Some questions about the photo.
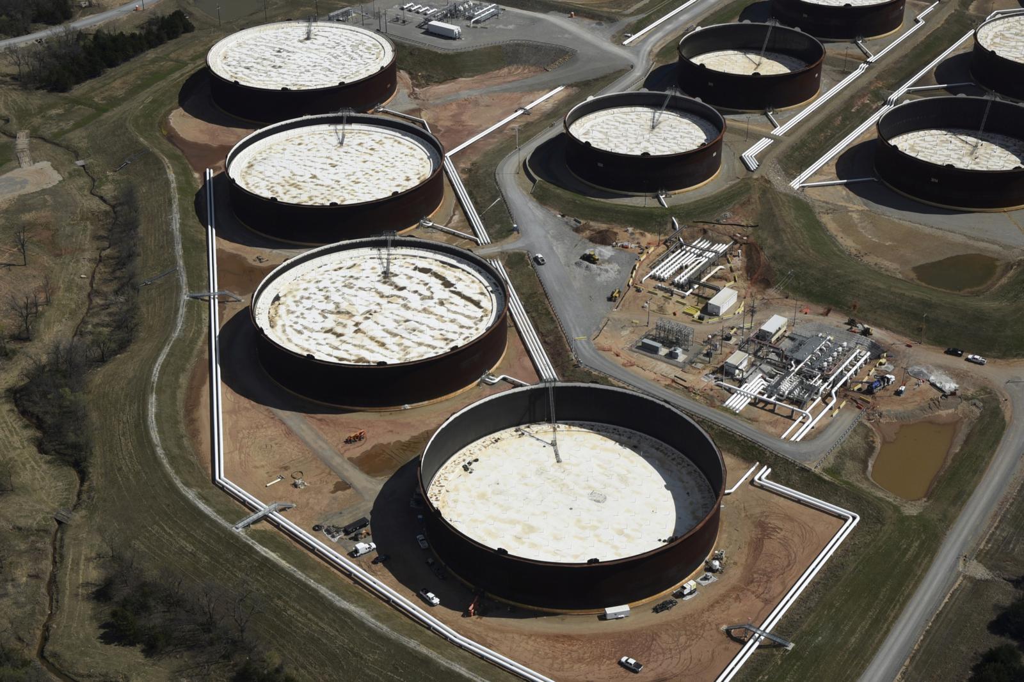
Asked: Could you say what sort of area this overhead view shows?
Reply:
industrial area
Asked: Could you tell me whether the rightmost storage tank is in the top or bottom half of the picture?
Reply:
top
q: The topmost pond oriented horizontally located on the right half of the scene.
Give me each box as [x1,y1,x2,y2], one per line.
[912,255,999,291]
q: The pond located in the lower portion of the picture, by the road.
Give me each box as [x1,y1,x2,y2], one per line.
[870,418,964,501]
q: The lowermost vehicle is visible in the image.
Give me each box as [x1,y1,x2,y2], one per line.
[619,654,644,671]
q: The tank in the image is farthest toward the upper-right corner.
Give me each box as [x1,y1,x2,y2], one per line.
[967,9,1024,98]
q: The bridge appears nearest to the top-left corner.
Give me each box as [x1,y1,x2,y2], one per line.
[15,129,35,168]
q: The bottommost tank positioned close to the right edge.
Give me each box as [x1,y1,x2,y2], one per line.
[872,88,1024,211]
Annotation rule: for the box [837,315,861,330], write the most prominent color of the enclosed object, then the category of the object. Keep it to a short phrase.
black work vehicle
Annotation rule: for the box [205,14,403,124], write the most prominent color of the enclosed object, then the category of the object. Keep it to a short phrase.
white storage tank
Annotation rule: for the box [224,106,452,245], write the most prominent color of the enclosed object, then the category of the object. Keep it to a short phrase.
white storage tank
